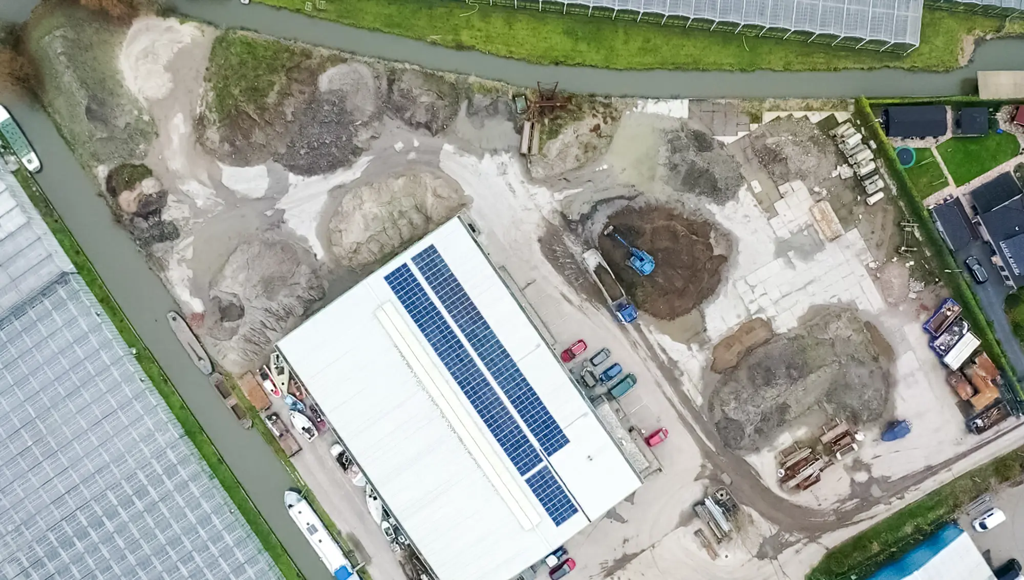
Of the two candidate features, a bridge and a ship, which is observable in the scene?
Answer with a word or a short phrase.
ship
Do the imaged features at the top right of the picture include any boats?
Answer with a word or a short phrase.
No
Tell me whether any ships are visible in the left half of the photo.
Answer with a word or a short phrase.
Yes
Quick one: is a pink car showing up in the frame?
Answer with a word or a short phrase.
Yes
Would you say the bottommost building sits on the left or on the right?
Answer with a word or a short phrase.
right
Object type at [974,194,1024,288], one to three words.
house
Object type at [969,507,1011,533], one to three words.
vehicle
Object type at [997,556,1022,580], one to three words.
car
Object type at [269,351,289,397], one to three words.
boat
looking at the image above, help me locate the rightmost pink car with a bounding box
[644,427,671,448]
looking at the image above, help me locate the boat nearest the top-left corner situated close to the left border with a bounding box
[0,101,42,172]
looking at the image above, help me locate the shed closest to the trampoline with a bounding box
[884,105,949,139]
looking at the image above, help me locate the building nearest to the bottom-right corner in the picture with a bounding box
[862,521,1005,580]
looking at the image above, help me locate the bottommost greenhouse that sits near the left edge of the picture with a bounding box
[0,272,287,580]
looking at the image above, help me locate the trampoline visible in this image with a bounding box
[899,146,918,165]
